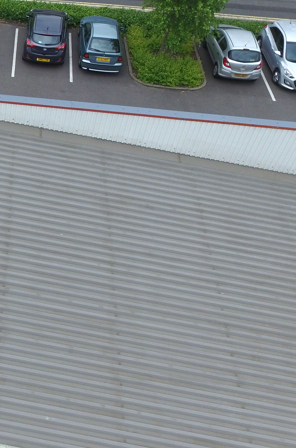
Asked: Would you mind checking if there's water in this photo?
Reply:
No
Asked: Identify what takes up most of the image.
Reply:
buildings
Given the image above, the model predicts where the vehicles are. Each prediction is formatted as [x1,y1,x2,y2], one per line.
[262,21,296,89]
[207,29,263,82]
[79,19,125,73]
[24,12,70,66]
